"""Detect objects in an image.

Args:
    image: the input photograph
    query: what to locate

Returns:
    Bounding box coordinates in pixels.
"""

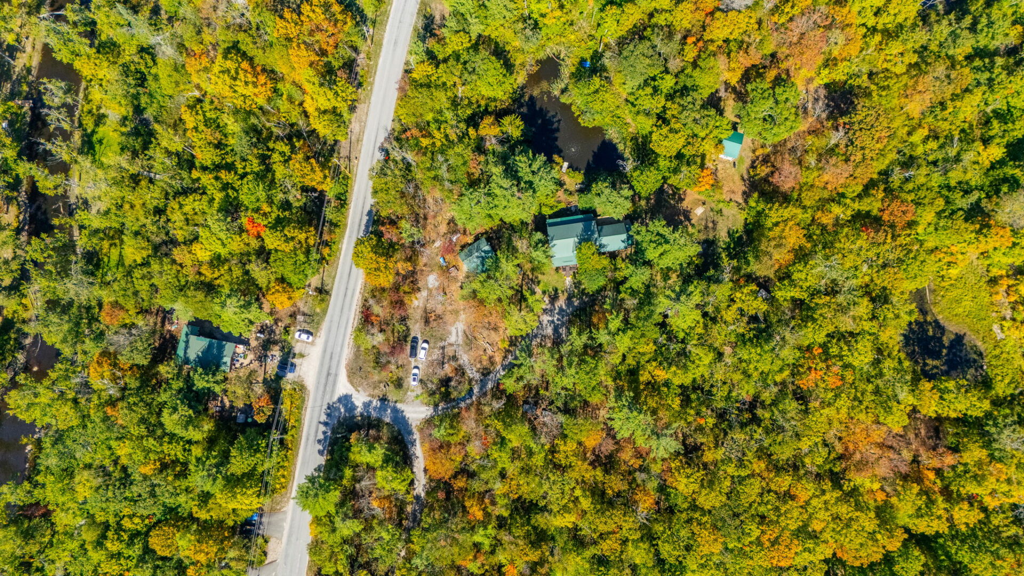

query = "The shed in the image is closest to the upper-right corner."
[714,130,743,163]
